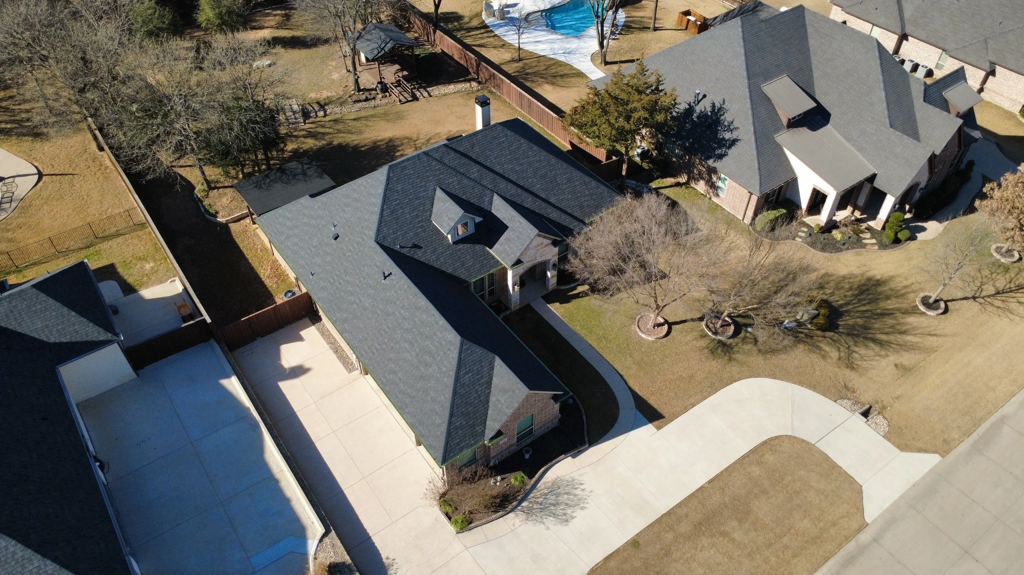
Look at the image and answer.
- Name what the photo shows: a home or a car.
home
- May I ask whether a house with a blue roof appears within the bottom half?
No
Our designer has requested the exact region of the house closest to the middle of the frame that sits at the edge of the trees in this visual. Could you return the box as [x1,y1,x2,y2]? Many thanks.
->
[232,88,632,493]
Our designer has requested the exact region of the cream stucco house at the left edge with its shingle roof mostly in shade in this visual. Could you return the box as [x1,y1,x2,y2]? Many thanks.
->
[0,259,138,575]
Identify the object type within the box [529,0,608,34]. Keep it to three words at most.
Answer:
swimming pool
